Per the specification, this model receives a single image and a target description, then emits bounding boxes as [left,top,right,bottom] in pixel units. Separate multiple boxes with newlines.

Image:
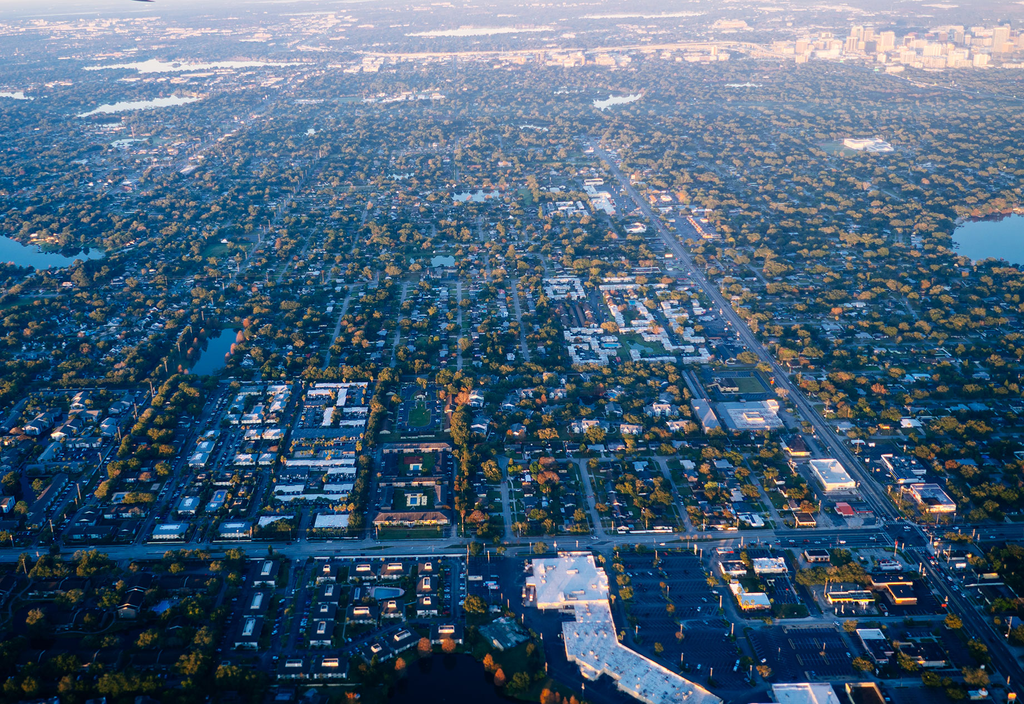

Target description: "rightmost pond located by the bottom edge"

[390,654,504,704]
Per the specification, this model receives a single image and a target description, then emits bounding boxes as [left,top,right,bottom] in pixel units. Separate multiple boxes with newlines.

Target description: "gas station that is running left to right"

[828,590,875,608]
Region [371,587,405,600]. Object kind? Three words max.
swimming pool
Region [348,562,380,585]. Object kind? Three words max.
building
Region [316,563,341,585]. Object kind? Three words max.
building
